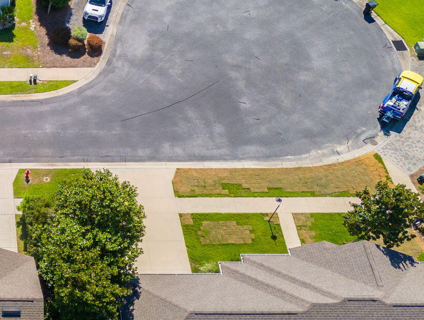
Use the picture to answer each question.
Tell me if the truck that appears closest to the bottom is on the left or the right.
right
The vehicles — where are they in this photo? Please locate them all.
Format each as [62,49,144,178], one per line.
[374,71,423,124]
[83,0,114,25]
